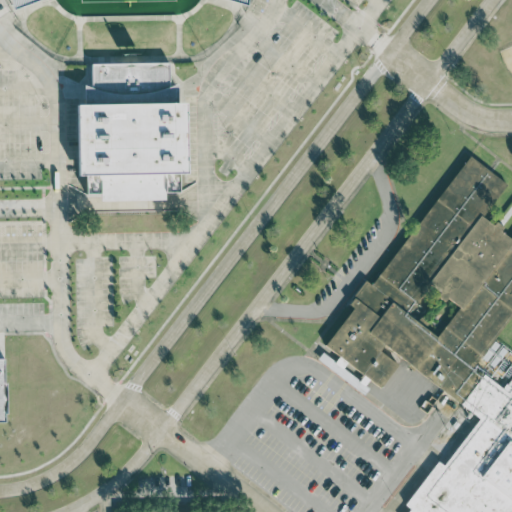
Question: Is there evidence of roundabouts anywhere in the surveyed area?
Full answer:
No, no roundabout can be seen from above.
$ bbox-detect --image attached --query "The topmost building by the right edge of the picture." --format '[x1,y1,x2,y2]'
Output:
[325,156,512,403]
